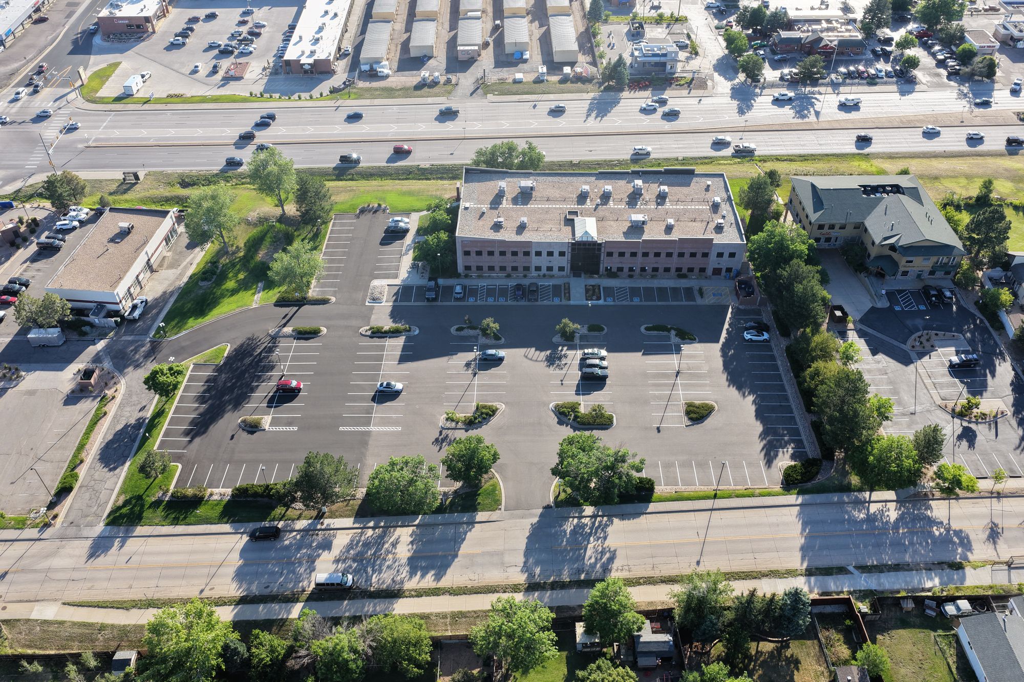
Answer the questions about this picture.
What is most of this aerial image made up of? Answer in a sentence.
The largest share of the image is taken up by paved ground.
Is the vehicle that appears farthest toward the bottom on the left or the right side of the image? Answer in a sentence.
It is on the right.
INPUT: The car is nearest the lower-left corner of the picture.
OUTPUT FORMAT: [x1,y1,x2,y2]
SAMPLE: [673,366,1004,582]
[249,526,281,542]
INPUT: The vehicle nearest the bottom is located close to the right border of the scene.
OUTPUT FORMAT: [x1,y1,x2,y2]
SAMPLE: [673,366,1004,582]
[937,599,993,619]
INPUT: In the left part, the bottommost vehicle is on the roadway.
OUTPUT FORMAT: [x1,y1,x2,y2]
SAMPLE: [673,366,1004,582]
[315,571,353,590]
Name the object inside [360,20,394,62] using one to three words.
building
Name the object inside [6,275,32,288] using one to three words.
vehicle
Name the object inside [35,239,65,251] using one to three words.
vehicle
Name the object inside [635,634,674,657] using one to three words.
shed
